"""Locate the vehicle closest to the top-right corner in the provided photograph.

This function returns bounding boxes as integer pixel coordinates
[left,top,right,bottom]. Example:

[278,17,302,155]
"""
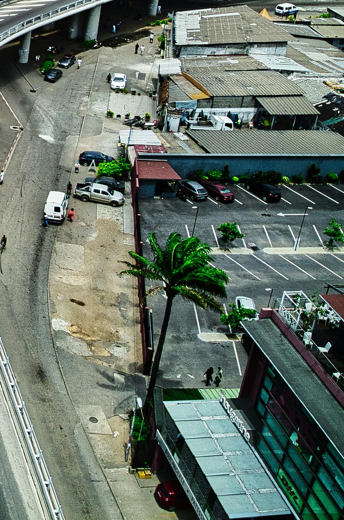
[272,2,303,16]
